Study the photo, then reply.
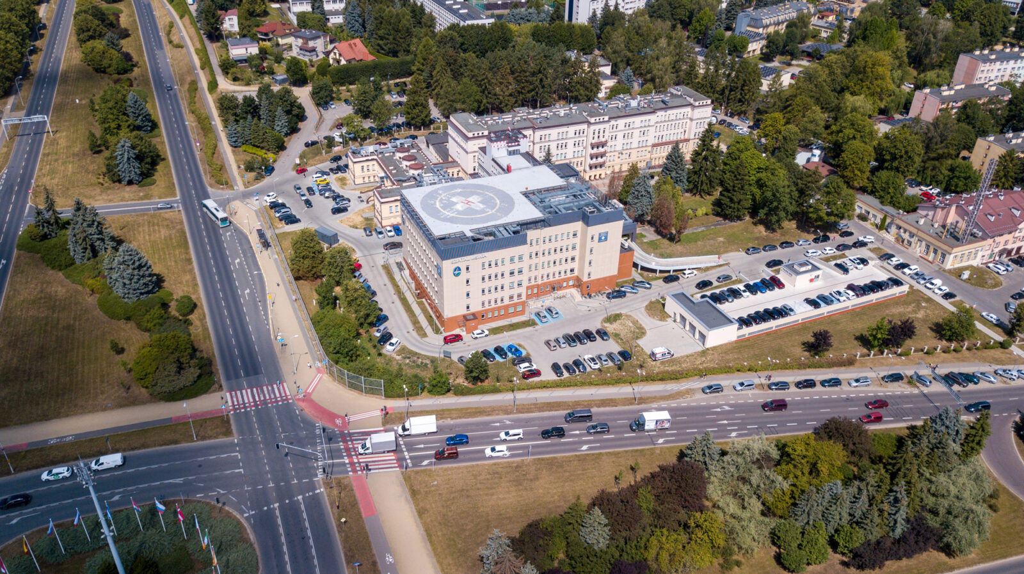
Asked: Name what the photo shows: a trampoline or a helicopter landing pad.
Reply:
helicopter landing pad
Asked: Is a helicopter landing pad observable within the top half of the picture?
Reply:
Yes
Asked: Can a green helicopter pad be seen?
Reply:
No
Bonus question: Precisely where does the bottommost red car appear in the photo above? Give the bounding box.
[434,446,460,461]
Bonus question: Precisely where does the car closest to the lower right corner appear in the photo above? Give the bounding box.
[964,400,991,413]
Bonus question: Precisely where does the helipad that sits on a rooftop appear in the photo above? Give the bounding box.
[398,151,573,240]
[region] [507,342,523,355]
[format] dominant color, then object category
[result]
blue vehicle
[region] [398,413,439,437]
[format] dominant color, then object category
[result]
white truck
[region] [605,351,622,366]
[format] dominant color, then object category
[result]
gray car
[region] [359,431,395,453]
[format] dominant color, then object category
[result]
white truck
